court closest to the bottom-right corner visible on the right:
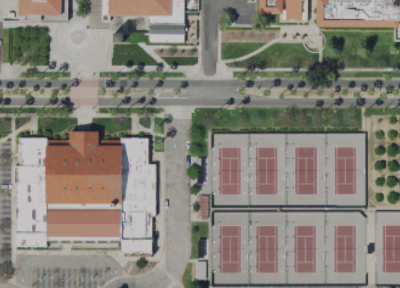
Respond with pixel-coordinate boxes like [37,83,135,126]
[382,226,400,272]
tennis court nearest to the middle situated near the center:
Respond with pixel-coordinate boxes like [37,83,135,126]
[220,147,241,194]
